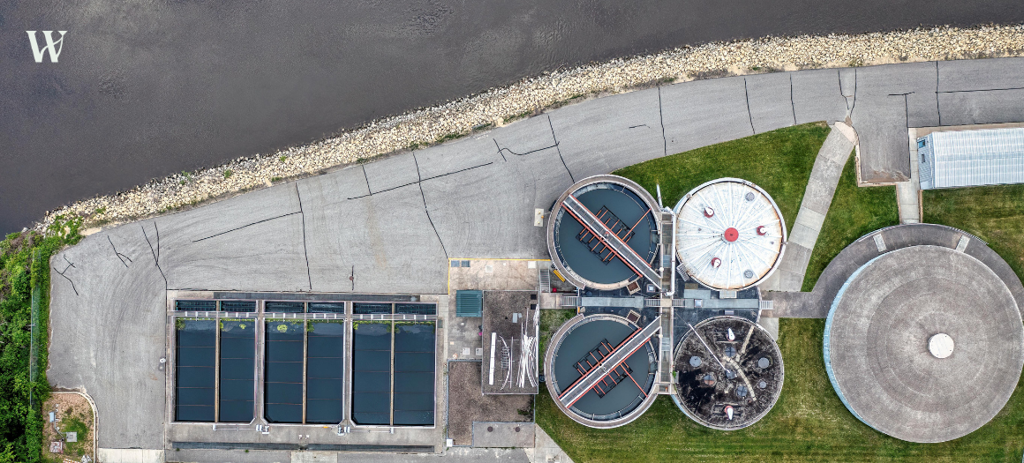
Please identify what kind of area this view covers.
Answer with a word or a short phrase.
industrial area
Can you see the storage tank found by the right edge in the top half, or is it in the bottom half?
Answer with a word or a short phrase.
bottom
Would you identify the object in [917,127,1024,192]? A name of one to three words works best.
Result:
building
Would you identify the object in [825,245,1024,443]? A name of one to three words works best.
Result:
storage tank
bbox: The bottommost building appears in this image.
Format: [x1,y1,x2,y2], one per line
[449,360,535,446]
